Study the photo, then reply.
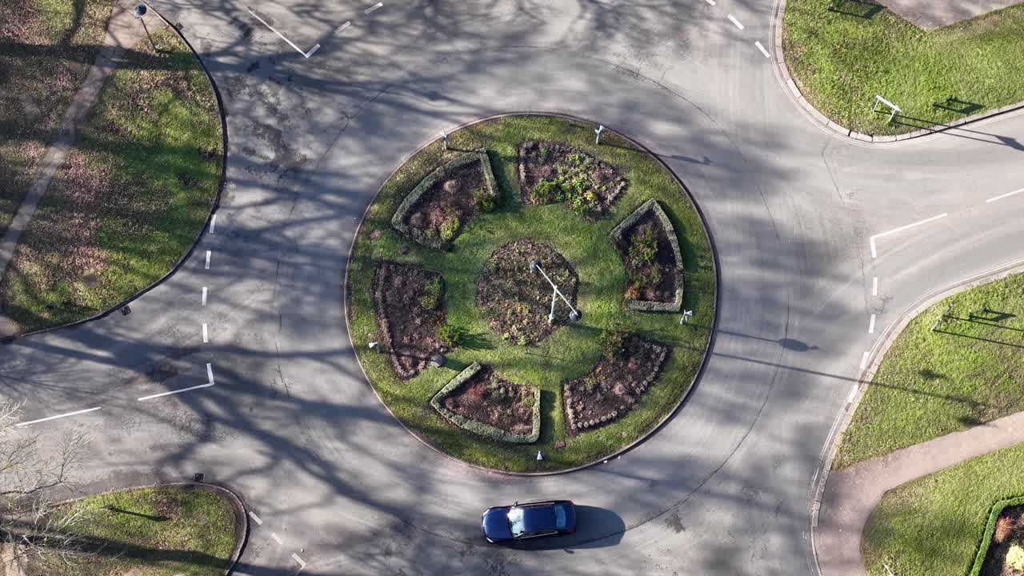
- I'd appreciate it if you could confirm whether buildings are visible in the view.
No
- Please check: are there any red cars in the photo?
No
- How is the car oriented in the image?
from left to right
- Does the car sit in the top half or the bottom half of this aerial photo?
bottom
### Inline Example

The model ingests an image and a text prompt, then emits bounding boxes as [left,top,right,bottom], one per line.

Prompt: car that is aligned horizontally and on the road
[480,500,577,543]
